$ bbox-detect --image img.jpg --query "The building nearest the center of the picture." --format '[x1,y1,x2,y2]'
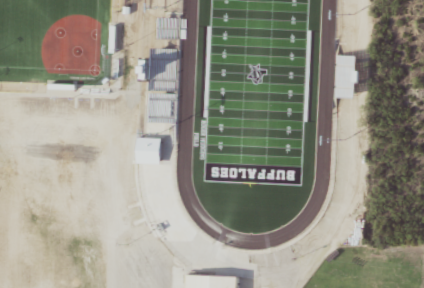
[134,138,162,164]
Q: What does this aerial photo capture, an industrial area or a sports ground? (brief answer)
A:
sports ground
